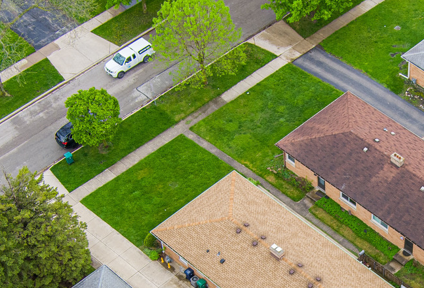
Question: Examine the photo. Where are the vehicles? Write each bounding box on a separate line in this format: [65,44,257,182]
[54,119,81,148]
[100,35,157,79]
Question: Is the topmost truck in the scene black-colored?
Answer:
No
